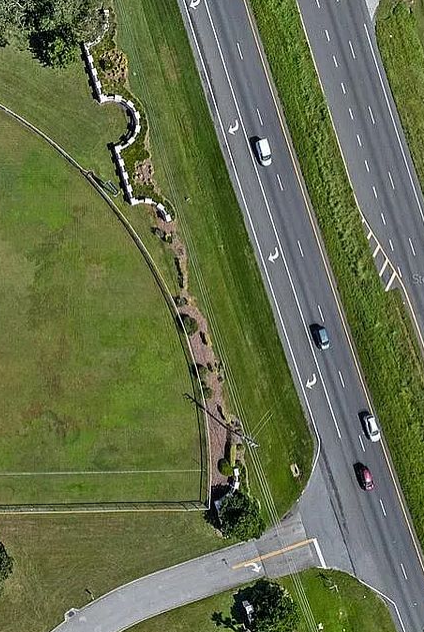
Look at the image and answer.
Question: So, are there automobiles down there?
Yes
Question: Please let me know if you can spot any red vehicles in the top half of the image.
No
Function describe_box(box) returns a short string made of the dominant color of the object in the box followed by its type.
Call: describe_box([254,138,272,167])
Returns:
white car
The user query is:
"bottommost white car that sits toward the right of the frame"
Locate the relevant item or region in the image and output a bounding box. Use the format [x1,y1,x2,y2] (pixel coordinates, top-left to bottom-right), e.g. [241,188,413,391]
[363,413,381,442]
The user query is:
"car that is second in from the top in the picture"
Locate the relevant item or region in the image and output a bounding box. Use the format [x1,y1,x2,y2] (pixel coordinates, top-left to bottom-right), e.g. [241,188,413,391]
[314,324,331,350]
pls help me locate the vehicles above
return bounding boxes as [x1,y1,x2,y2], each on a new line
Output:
[356,464,373,490]
[363,413,381,442]
[314,324,331,350]
[254,138,272,167]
